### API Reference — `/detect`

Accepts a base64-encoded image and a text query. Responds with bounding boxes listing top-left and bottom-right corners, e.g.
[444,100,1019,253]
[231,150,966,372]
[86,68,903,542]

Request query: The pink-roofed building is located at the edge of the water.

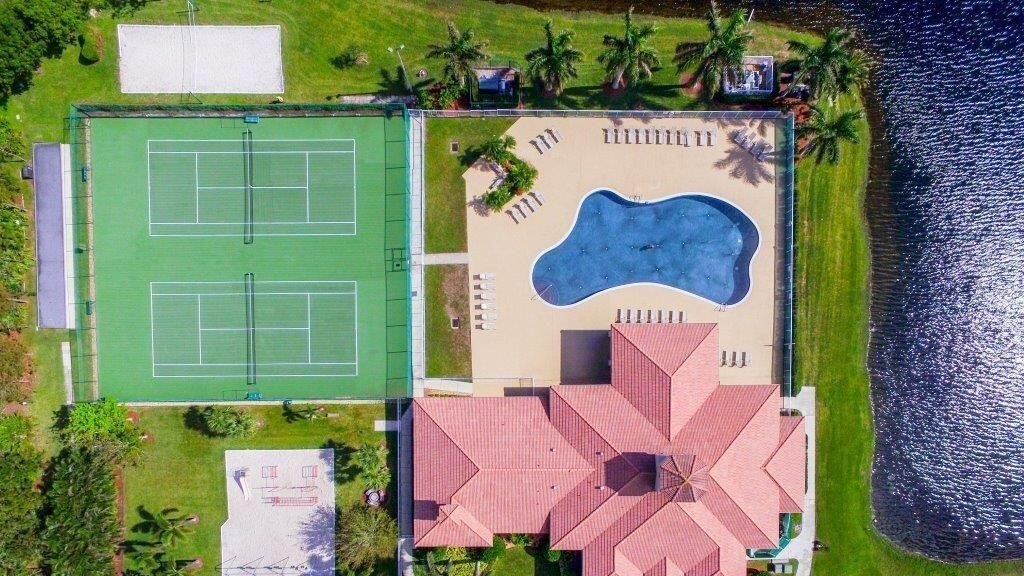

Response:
[413,322,806,576]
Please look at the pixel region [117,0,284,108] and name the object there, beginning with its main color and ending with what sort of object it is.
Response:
white sports court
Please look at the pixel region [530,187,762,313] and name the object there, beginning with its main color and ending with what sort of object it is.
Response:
blue swimming pool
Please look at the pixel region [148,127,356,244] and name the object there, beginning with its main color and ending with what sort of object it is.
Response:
green tennis court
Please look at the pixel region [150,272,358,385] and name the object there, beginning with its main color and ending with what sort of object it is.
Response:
green tennis court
